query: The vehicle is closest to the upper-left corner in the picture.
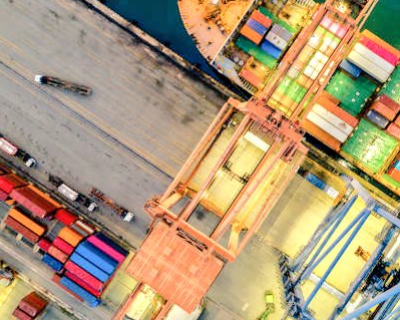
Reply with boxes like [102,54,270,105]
[32,71,95,96]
